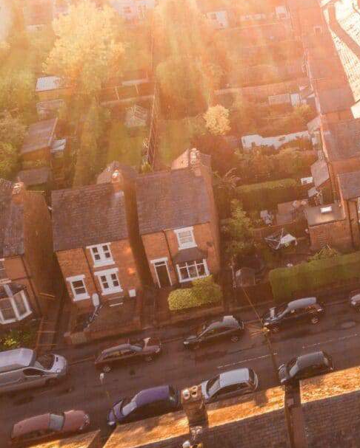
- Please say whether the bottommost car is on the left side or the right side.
left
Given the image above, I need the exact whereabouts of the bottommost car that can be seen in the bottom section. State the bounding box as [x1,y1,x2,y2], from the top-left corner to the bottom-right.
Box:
[9,418,79,448]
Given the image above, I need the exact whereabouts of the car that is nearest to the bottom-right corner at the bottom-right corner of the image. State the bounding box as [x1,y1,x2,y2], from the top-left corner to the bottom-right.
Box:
[283,351,344,390]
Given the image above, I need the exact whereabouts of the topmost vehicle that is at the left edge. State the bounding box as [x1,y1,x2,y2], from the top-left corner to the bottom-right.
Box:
[0,346,63,392]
